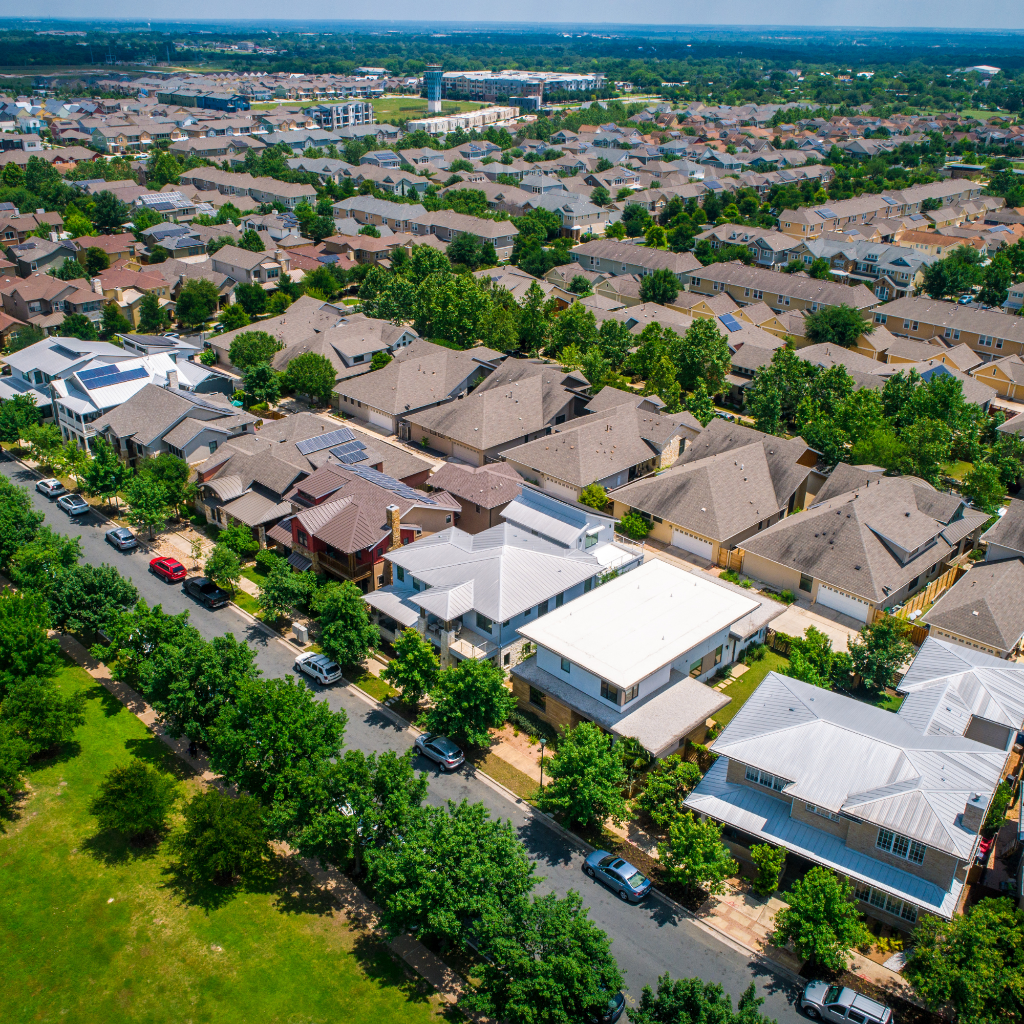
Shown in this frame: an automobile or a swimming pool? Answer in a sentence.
The image shows an automobile.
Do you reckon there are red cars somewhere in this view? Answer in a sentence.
Yes, there is a red car in the image.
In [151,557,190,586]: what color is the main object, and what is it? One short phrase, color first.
red car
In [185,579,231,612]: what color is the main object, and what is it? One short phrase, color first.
black truck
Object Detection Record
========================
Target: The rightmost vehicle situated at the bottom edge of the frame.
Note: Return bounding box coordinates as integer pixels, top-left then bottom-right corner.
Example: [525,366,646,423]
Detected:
[799,975,894,1024]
